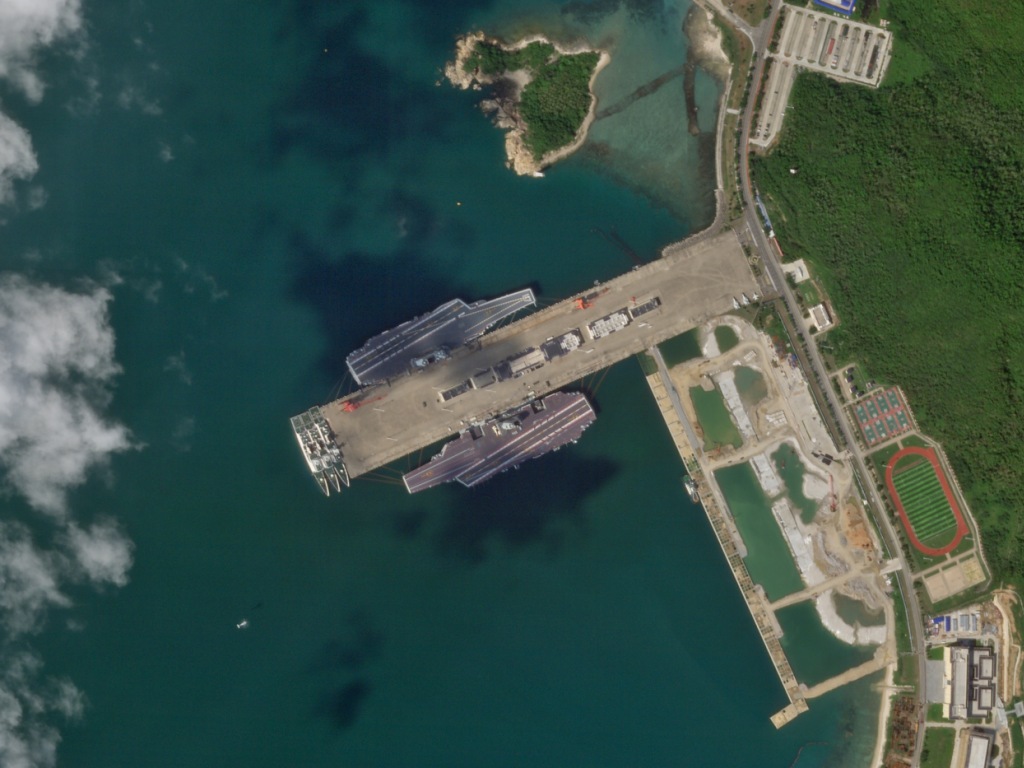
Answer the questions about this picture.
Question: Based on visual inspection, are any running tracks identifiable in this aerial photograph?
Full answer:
Yes, there is a running track in the image.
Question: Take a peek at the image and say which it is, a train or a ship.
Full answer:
This aerial view contains a ship.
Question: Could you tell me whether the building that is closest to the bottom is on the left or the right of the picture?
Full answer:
You can find the building that is closest to the bottom on the right side of the picture.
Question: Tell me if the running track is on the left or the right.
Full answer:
The running track is on the right side of the image.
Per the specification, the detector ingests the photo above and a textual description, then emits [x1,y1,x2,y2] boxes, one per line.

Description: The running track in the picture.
[887,446,965,556]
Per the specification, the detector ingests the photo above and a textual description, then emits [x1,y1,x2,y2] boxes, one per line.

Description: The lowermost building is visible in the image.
[957,730,994,768]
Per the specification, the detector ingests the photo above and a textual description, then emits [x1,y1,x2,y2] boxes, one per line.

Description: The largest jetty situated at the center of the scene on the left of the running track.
[320,229,762,479]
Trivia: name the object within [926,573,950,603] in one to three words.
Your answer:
sports court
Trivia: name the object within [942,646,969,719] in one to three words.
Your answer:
building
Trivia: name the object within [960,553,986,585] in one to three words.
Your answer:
sports court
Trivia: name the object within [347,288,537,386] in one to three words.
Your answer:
ship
